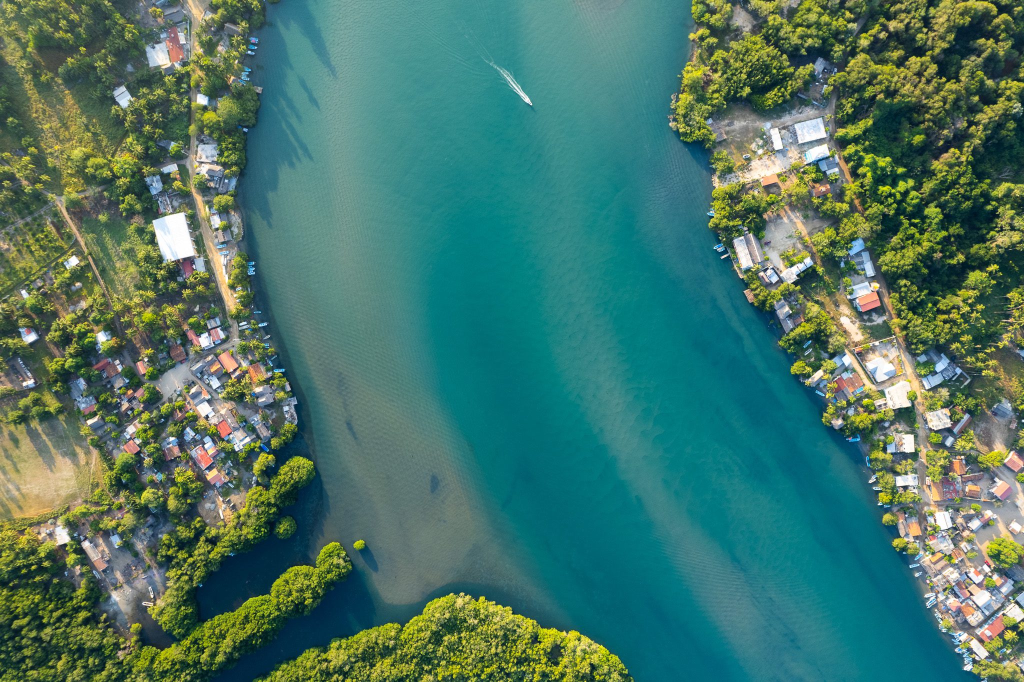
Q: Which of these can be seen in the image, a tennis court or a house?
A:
house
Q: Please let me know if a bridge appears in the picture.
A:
No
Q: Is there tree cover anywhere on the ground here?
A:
Yes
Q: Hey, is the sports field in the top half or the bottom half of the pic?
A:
bottom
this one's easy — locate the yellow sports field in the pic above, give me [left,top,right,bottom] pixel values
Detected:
[0,430,85,520]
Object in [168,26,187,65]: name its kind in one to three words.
house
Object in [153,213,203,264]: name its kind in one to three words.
building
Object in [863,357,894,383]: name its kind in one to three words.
house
